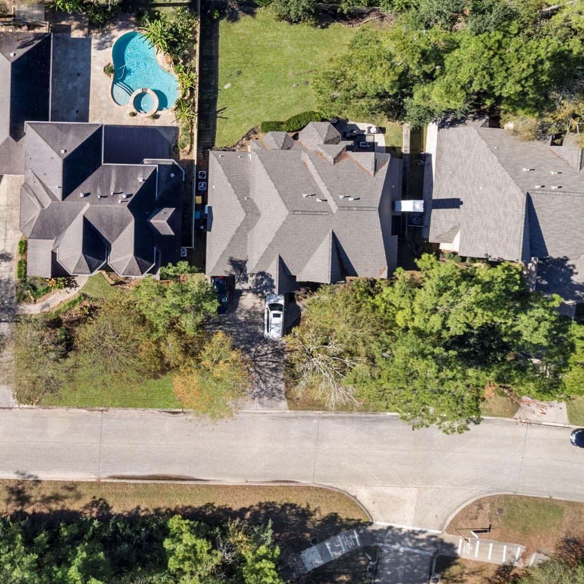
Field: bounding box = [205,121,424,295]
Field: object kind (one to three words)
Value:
house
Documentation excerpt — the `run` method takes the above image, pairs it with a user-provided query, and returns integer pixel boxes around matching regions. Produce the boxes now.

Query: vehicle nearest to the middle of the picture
[264,294,287,339]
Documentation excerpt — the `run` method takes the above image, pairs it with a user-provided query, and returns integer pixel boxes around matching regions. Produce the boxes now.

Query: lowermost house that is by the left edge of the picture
[0,31,186,279]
